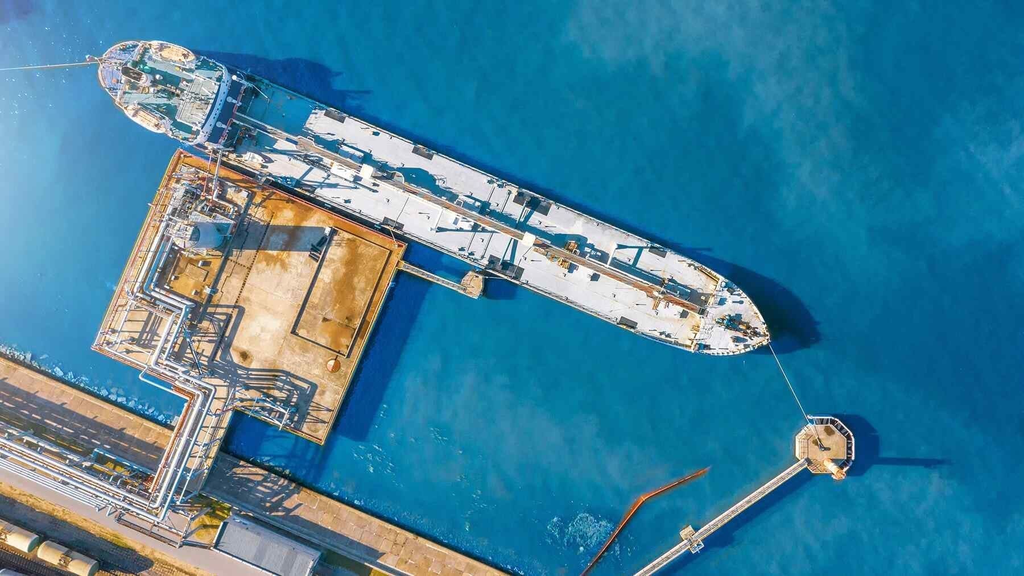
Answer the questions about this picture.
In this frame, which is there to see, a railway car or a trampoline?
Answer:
railway car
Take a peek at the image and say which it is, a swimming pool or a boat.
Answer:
boat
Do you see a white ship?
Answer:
Yes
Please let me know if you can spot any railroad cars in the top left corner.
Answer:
No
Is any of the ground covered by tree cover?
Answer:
No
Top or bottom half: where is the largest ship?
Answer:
top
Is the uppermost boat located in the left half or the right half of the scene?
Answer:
left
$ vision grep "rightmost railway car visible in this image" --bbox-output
[32,536,107,576]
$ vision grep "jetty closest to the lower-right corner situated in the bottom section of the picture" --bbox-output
[678,524,704,560]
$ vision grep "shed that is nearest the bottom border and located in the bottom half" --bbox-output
[216,508,326,576]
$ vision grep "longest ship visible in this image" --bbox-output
[80,38,772,353]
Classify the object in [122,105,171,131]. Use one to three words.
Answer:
boat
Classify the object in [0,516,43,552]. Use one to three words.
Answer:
rail car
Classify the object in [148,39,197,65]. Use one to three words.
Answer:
boat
